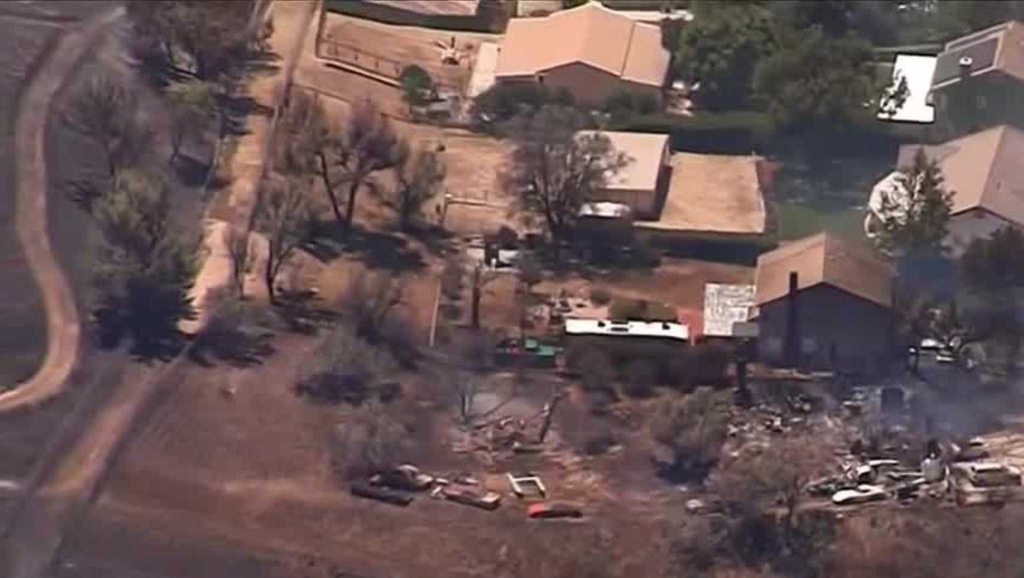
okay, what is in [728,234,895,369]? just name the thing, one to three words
house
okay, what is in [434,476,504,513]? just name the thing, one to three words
vehicle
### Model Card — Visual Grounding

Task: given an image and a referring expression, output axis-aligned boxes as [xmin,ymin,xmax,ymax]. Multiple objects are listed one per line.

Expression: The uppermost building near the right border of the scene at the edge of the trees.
[927,18,1024,135]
